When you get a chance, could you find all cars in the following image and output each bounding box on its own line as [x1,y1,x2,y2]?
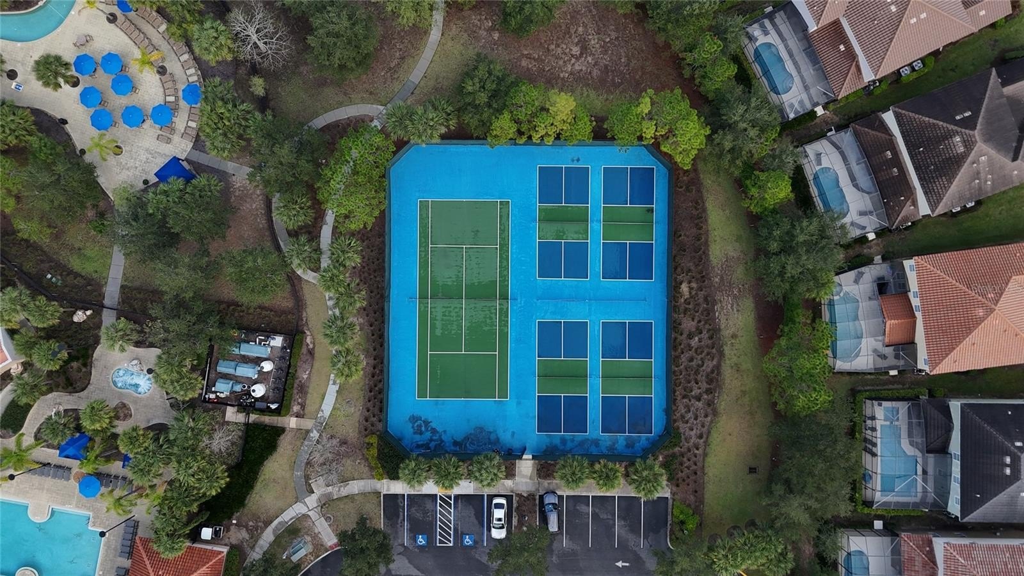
[541,493,561,535]
[489,498,508,540]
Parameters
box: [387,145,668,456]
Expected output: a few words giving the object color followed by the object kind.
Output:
blue sports court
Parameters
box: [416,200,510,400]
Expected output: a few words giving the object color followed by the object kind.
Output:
green tennis court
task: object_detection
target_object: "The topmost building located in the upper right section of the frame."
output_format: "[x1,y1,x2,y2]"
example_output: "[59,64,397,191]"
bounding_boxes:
[795,0,1012,101]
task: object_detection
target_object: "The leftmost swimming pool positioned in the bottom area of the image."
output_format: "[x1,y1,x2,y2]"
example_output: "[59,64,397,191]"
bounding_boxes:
[0,497,105,576]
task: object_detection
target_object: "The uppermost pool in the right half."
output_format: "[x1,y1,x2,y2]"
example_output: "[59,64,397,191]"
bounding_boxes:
[755,40,796,97]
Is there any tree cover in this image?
Yes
